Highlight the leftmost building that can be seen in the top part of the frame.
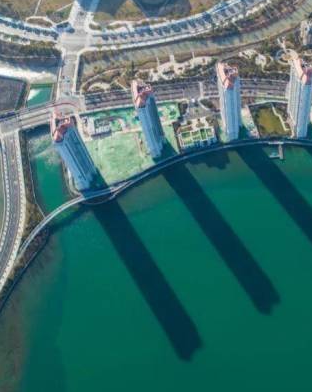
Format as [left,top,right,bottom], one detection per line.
[48,109,92,192]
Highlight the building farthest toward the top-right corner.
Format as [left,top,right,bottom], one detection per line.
[296,19,312,45]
